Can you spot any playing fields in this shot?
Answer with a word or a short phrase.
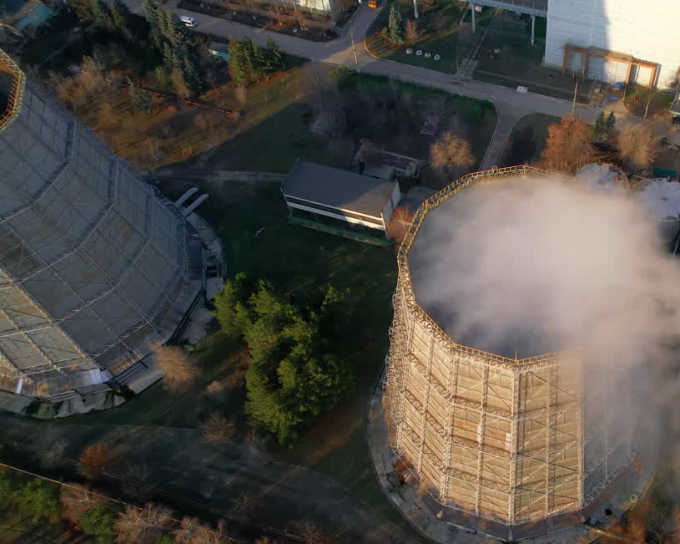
No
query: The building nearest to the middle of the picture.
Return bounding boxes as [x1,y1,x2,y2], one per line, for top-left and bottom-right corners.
[280,160,404,257]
